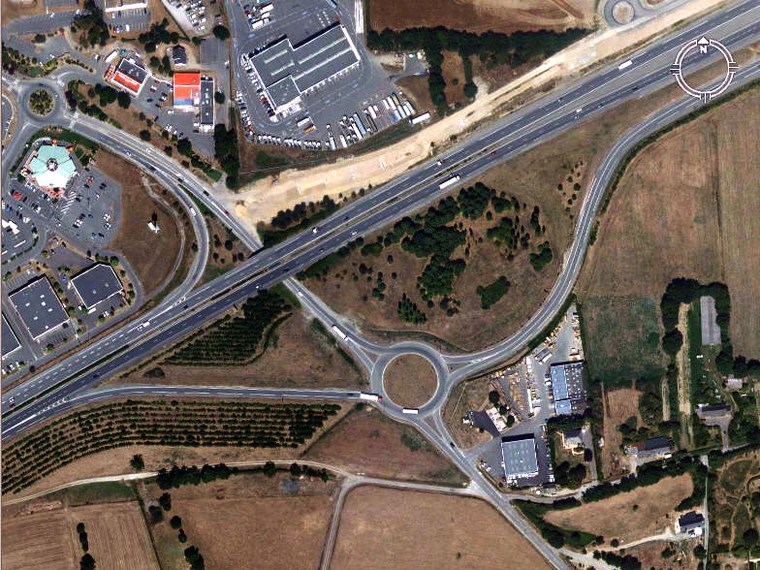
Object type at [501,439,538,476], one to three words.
building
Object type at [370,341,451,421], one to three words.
roundabout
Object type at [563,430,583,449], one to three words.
house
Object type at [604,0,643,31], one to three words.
roundabout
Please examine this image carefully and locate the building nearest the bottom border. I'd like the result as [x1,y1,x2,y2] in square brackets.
[678,511,705,533]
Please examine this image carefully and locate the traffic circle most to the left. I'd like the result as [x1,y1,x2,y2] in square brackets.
[19,79,64,125]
